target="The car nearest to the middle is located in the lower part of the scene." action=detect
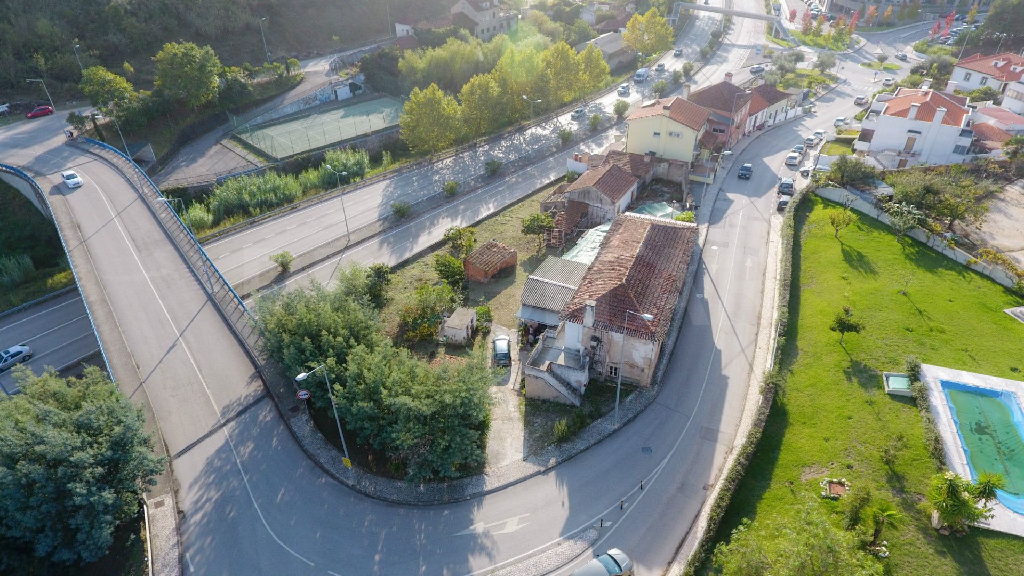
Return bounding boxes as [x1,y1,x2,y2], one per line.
[490,336,510,363]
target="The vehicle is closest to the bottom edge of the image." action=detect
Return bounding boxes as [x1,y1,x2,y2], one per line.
[570,546,636,576]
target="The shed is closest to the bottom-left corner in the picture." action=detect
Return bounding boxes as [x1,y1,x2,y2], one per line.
[440,307,475,338]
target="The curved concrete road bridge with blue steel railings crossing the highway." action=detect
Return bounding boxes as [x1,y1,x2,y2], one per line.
[0,120,263,392]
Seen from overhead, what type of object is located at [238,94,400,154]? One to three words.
sports court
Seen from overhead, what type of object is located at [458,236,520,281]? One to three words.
building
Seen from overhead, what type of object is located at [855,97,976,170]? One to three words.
house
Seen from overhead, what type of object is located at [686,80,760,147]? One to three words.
house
